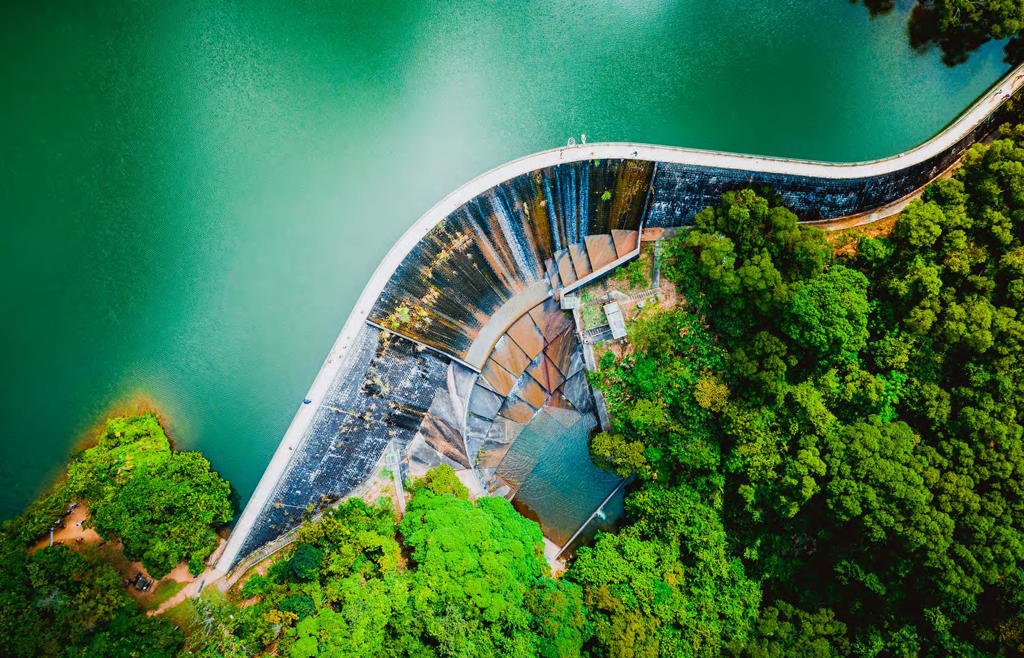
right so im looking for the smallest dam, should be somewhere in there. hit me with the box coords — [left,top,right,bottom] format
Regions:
[555,475,628,560]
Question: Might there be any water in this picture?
Yes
